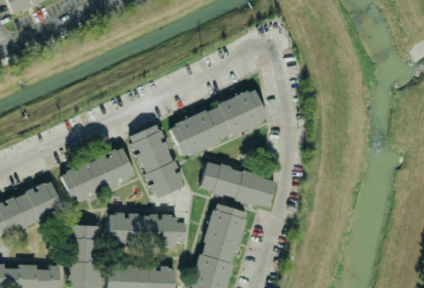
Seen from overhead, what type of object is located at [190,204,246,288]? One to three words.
building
